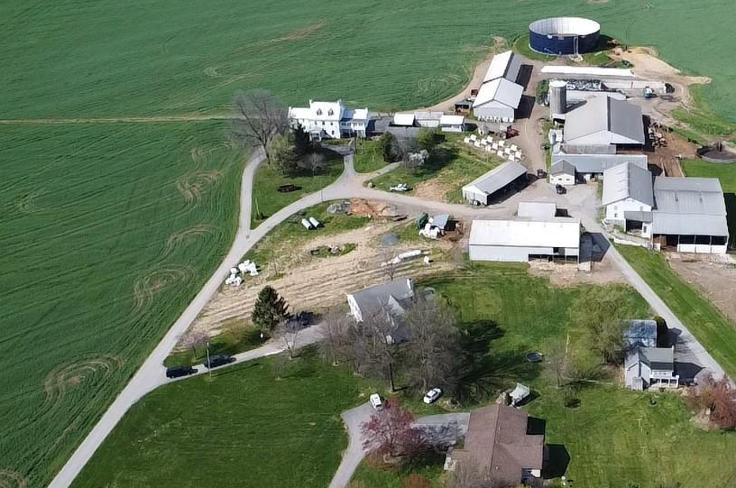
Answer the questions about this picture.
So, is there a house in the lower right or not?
Yes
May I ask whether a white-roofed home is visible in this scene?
Yes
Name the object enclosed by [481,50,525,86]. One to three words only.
barn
